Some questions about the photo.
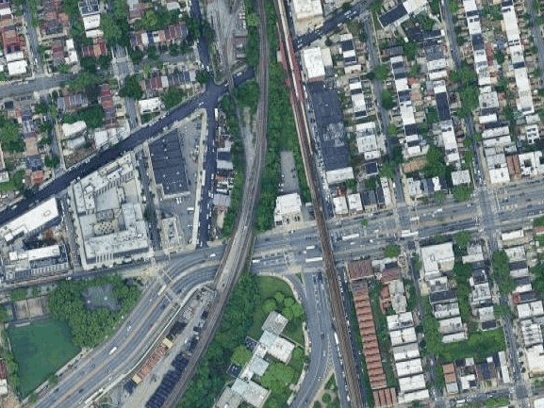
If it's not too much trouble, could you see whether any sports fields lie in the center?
No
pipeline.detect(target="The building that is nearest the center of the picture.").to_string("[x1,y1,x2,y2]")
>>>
[275,194,302,224]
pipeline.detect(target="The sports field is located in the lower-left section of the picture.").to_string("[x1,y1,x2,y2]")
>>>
[8,318,83,399]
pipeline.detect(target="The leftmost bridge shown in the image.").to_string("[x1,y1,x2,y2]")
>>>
[159,217,249,408]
